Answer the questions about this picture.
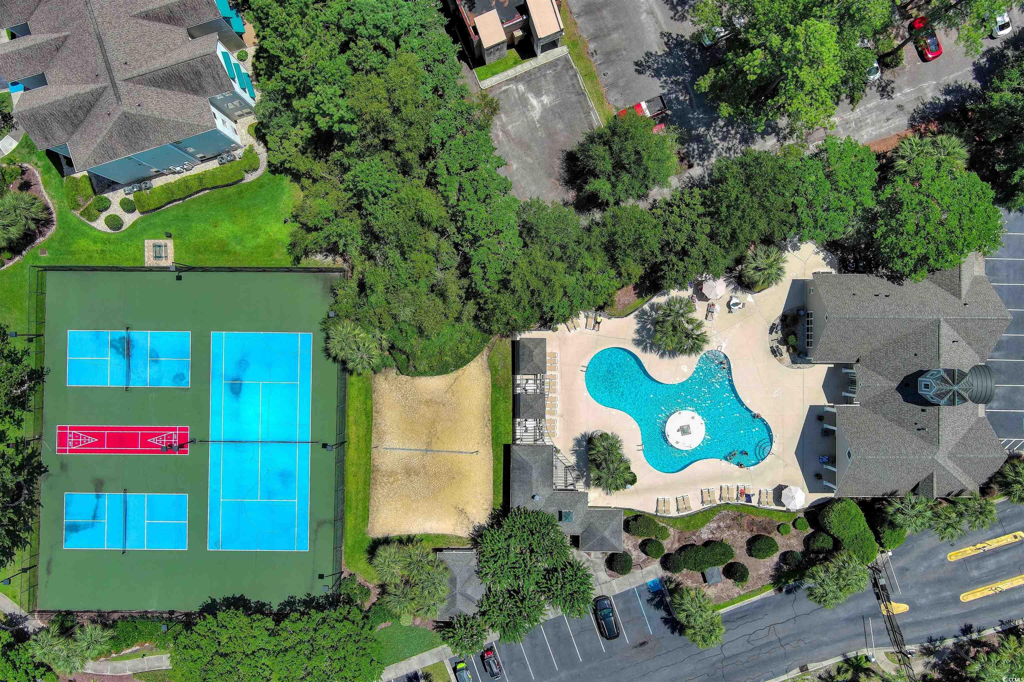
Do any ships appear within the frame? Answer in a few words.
No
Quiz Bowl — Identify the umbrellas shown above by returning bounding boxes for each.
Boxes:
[781,486,805,509]
[702,277,725,299]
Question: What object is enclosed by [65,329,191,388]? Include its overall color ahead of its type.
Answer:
blue sports court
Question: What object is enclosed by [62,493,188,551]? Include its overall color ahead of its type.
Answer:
blue sports court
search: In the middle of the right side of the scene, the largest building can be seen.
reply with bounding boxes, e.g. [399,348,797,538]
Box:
[805,247,1013,504]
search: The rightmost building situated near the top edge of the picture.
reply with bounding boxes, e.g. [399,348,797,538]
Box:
[453,0,563,64]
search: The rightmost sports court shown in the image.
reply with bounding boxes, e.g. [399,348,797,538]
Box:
[367,339,496,539]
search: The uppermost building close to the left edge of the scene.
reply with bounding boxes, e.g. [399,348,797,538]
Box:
[0,0,256,183]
